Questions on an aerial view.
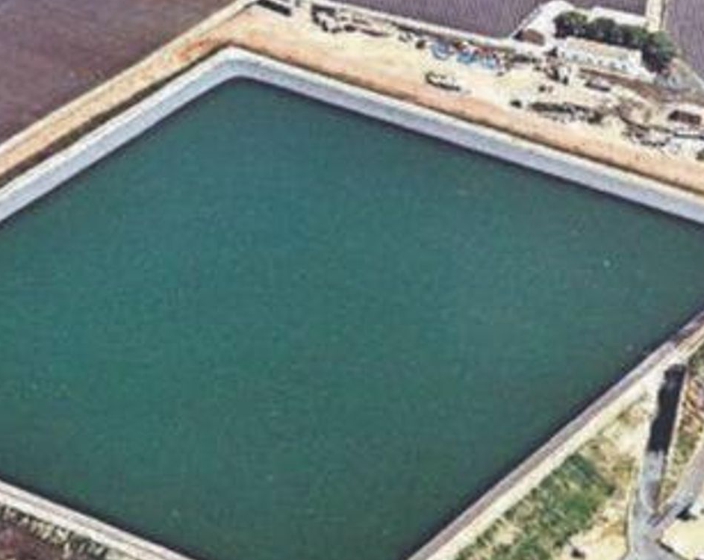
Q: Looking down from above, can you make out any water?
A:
Yes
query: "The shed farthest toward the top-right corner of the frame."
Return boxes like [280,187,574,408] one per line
[591,4,654,29]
